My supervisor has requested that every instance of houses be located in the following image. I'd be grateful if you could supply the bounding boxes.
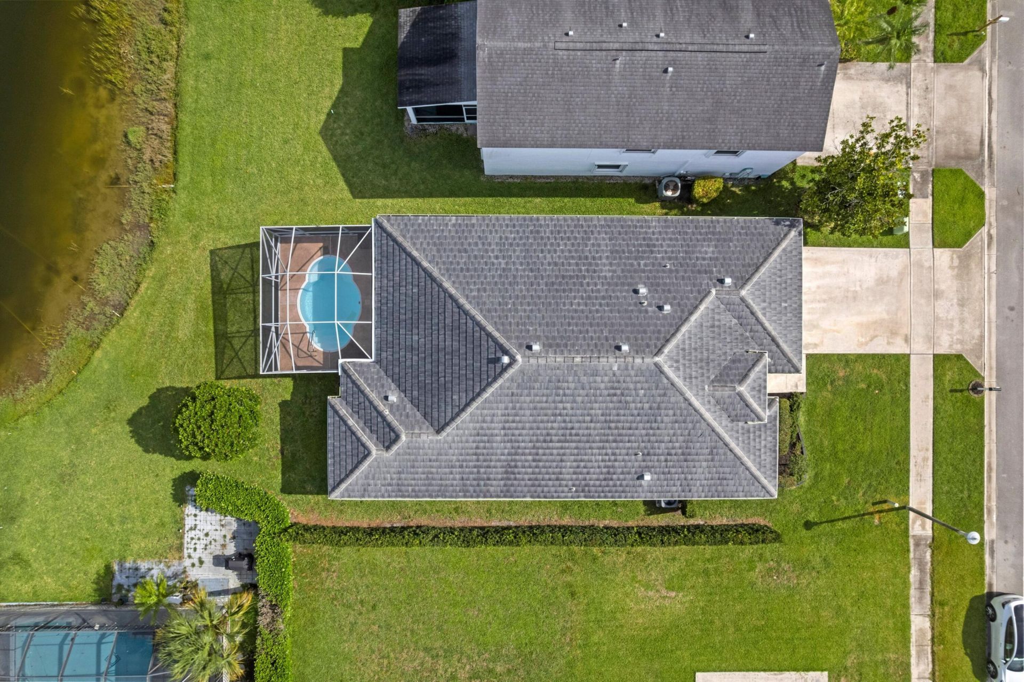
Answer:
[326,213,805,501]
[398,0,841,180]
